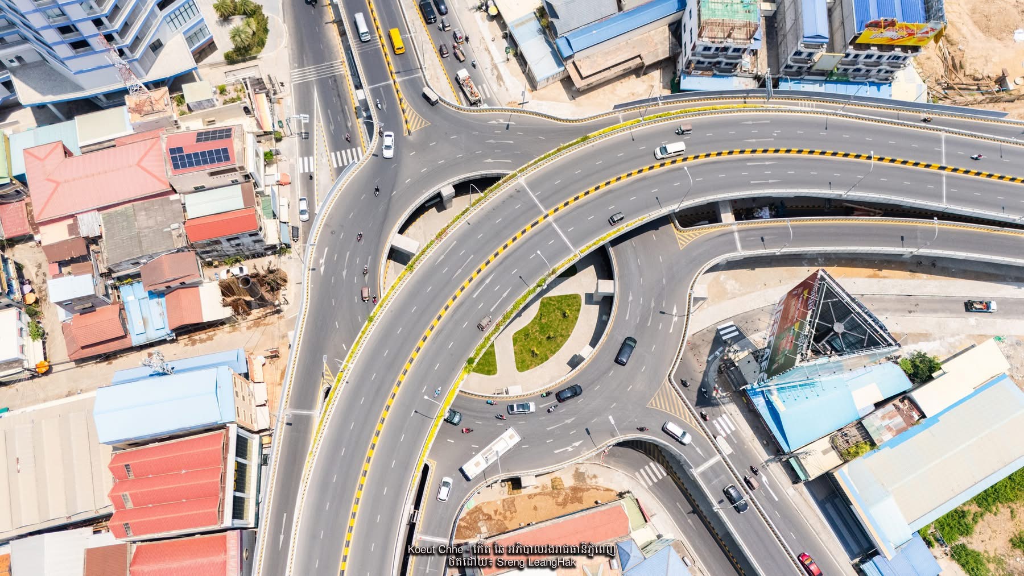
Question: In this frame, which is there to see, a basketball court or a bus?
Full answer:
There is a bus in the scene.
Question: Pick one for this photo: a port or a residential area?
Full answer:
The area seen from above is a residential area.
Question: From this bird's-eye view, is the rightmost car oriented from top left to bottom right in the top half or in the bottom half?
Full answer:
You can find the rightmost car oriented from top left to bottom right in the bottom half.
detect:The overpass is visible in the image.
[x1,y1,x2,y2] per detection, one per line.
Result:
[284,106,1024,576]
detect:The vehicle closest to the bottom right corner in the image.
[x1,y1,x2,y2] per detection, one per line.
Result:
[799,552,825,576]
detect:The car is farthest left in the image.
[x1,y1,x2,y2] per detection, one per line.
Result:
[220,265,248,279]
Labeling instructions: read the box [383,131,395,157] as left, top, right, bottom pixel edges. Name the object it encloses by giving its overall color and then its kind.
white vehicle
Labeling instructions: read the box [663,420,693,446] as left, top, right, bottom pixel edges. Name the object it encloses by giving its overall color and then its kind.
white car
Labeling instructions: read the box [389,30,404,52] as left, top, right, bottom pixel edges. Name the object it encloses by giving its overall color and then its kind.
yellow vehicle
